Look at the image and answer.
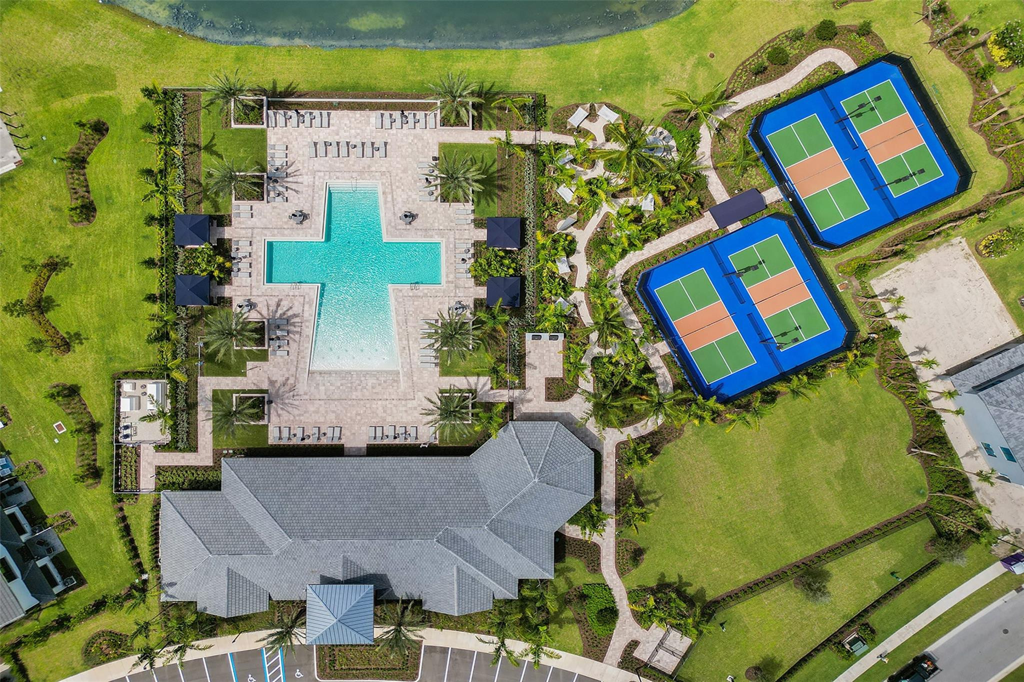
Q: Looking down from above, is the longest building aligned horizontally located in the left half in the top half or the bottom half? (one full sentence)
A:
It is in the bottom half that the longest building aligned horizontally located in the left half appears.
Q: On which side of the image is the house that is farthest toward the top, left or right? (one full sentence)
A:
The house that is farthest toward the top sits on the right side.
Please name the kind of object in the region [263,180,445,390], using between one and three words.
swimming pool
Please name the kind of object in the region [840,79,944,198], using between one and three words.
sports court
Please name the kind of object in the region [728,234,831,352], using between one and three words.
sports court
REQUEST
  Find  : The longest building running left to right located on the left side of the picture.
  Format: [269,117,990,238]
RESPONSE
[160,422,594,618]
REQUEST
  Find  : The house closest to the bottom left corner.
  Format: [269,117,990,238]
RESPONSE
[0,483,65,625]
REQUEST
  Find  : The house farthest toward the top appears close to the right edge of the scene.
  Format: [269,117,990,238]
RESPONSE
[948,342,1024,489]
